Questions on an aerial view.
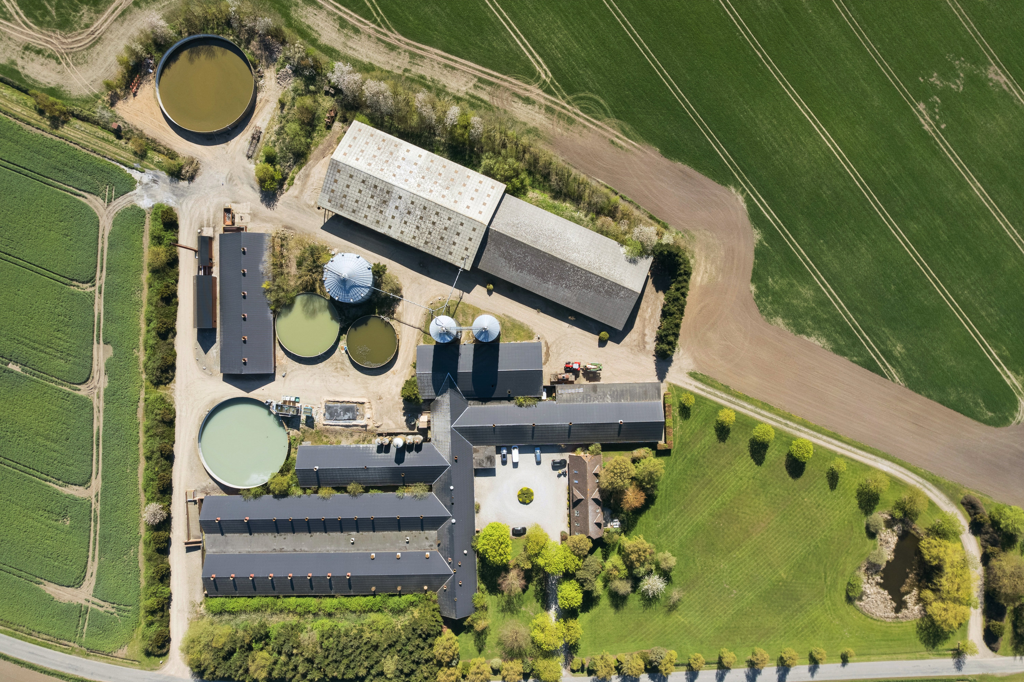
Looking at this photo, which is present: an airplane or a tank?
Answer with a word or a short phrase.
tank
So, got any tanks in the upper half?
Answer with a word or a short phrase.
Yes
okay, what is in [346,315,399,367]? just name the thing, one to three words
storage tank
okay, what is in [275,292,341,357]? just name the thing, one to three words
storage tank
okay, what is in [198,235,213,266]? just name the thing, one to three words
shed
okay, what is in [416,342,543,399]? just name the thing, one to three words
barn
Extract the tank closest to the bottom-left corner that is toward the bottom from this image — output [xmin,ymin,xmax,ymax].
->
[198,397,292,488]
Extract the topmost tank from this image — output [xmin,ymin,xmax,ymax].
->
[155,33,257,135]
